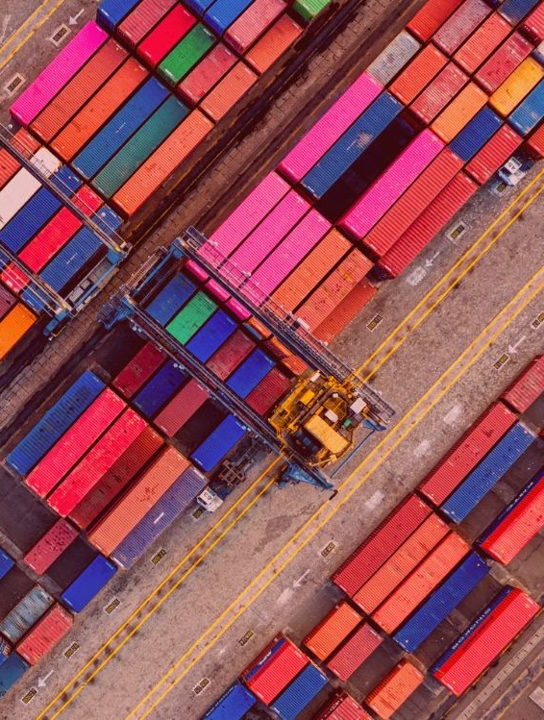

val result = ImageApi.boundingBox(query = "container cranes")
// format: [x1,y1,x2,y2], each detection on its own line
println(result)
[94,212,402,501]
[0,114,136,342]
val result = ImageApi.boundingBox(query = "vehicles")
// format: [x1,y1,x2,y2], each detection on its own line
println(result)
[489,144,535,192]
[193,431,272,514]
